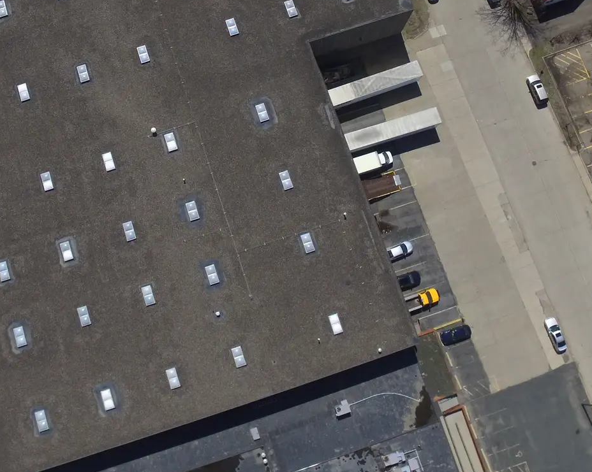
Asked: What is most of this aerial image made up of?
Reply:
buildings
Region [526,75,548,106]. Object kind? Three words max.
car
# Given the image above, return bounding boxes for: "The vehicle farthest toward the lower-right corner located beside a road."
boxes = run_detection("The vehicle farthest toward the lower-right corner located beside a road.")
[544,317,568,354]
